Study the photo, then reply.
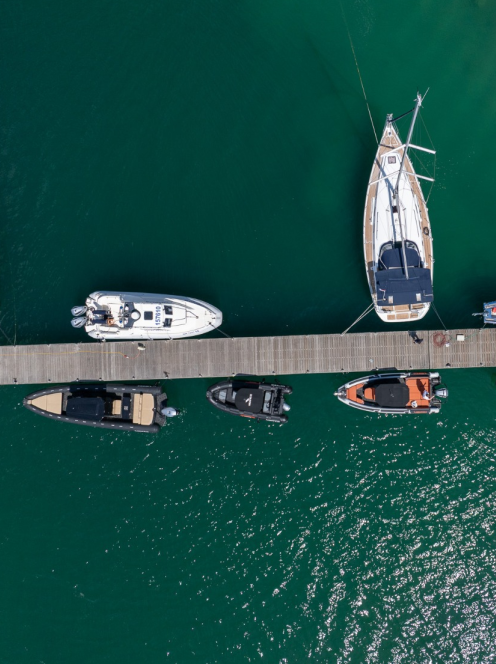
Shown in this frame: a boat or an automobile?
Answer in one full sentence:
The one in the frame is a boat.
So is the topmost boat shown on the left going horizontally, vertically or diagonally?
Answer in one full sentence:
From this overhead view, the topmost boat shown on the left appears to run horizontally.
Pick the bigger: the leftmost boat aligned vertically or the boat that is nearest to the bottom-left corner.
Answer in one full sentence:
It is the leftmost boat aligned vertically that is larger, not the boat that is nearest to the bottom-left corner.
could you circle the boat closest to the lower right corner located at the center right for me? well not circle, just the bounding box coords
[333,373,450,414]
